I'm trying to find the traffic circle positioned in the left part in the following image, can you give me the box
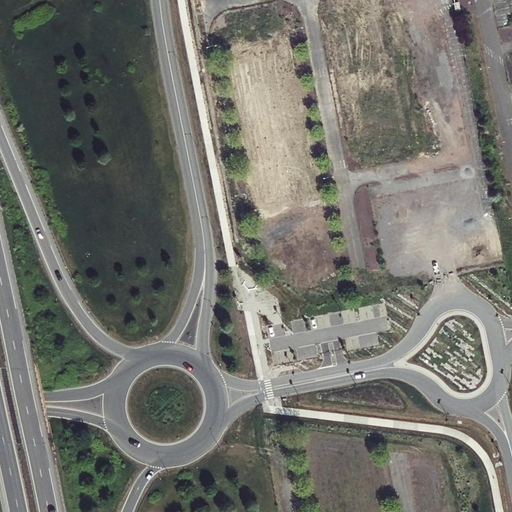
[103,342,228,468]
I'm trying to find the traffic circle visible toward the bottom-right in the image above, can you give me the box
[374,274,512,498]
